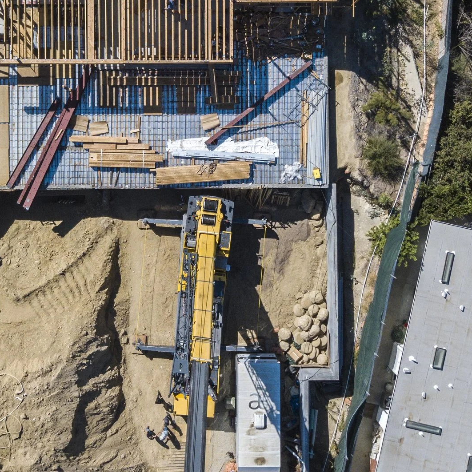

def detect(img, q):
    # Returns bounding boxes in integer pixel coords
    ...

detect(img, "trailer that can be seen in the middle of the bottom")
[233,343,282,468]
